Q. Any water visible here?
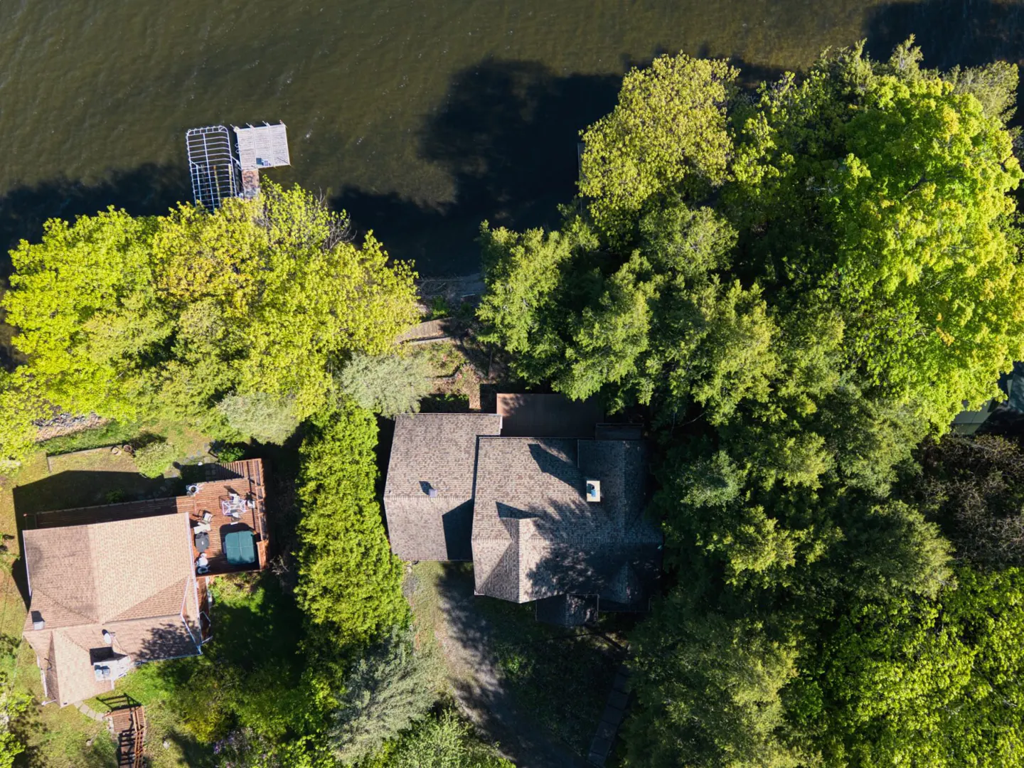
Yes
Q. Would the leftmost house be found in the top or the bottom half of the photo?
bottom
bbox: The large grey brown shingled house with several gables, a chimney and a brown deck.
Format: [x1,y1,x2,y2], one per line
[387,393,663,631]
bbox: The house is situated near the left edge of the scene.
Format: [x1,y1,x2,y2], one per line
[20,459,274,710]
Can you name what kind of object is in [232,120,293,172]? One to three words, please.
pier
